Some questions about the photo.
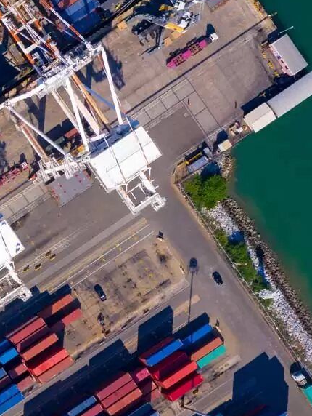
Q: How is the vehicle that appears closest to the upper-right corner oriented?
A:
on a diagonal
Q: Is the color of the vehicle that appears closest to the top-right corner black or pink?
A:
pink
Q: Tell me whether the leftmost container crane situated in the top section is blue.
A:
No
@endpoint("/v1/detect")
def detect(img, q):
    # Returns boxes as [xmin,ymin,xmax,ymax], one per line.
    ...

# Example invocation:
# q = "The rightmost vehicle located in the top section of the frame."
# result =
[168,34,214,69]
